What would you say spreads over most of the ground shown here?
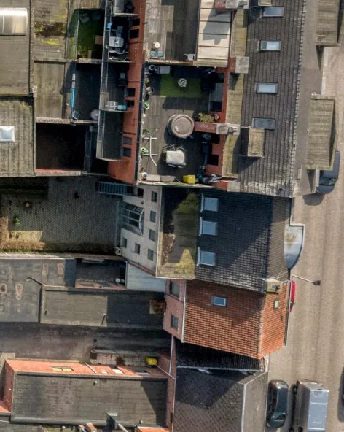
buildings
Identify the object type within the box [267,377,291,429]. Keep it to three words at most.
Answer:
car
